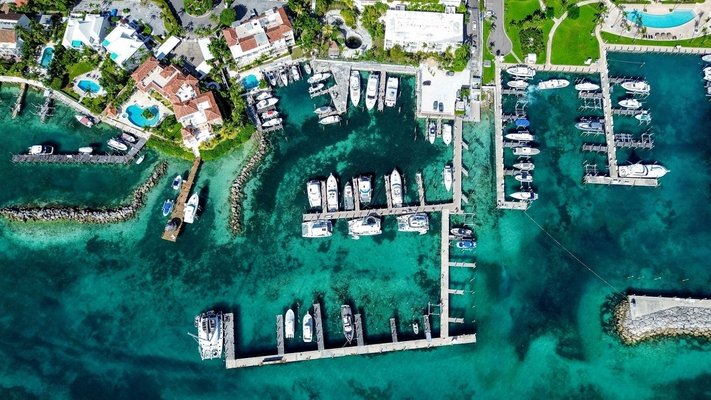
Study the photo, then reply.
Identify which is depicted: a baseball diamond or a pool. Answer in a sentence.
The one in the frame is a pool.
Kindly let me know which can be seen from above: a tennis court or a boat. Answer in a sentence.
This aerial view contains a boat.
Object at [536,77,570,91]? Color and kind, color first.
white boat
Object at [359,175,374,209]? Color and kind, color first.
white boat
